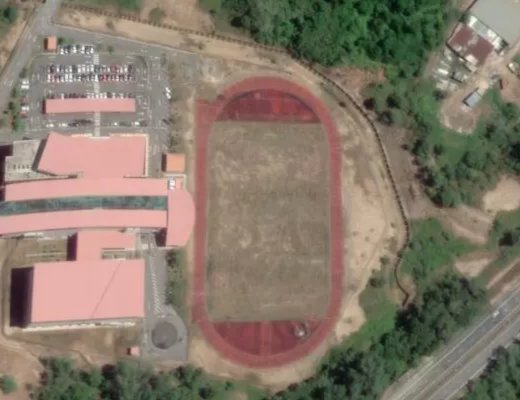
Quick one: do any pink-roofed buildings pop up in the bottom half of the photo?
Yes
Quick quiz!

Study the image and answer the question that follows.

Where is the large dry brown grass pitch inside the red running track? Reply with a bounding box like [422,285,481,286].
[207,123,330,321]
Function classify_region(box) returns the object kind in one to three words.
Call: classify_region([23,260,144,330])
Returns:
building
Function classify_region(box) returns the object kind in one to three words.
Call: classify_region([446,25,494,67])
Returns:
shed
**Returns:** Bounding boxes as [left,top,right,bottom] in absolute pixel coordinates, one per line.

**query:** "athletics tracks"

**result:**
[193,77,344,368]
